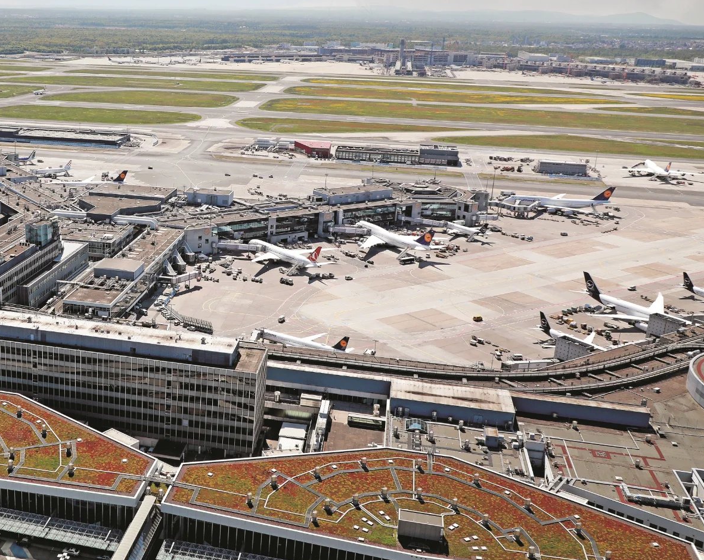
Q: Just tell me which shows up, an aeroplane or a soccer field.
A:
aeroplane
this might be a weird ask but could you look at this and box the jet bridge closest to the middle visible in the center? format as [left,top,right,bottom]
[330,226,372,240]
